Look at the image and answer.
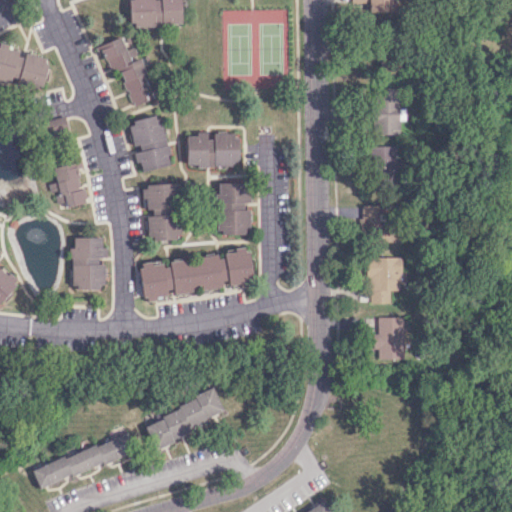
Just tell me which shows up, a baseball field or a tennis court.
tennis court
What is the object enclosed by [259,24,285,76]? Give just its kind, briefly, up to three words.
tennis court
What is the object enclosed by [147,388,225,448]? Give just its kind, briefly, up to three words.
building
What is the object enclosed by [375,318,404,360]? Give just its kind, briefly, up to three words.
house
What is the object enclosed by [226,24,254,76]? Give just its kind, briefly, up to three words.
tennis court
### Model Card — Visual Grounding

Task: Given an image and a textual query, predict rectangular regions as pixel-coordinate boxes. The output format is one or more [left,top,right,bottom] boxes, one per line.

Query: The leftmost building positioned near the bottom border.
[34,443,120,488]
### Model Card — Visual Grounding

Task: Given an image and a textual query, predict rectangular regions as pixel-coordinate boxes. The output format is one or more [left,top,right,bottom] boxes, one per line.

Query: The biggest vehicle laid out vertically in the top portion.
[104,130,116,156]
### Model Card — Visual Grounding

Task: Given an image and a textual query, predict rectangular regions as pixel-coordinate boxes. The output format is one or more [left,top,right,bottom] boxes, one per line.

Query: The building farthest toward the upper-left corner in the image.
[0,44,48,88]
